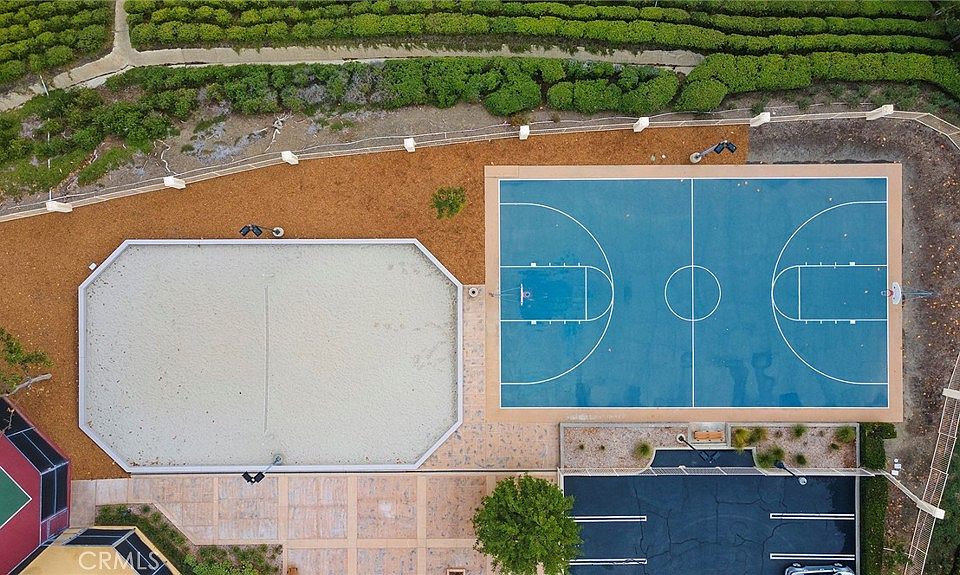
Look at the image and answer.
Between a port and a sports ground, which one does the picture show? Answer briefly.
sports ground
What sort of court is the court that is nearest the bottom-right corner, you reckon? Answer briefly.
basketball court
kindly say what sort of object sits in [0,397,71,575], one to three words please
sports court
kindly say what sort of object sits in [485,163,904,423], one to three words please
basketball court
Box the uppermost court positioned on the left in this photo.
[79,239,463,473]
